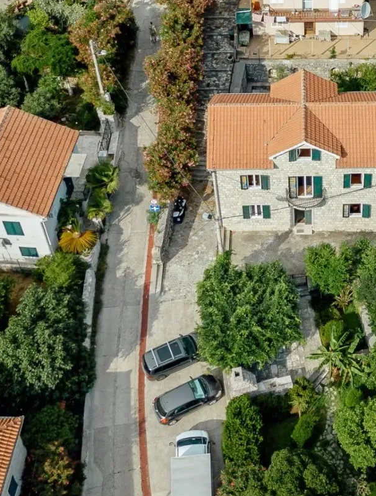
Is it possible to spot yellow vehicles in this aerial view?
No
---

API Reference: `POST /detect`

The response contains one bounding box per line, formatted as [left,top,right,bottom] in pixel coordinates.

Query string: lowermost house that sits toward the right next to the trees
[212,61,376,250]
